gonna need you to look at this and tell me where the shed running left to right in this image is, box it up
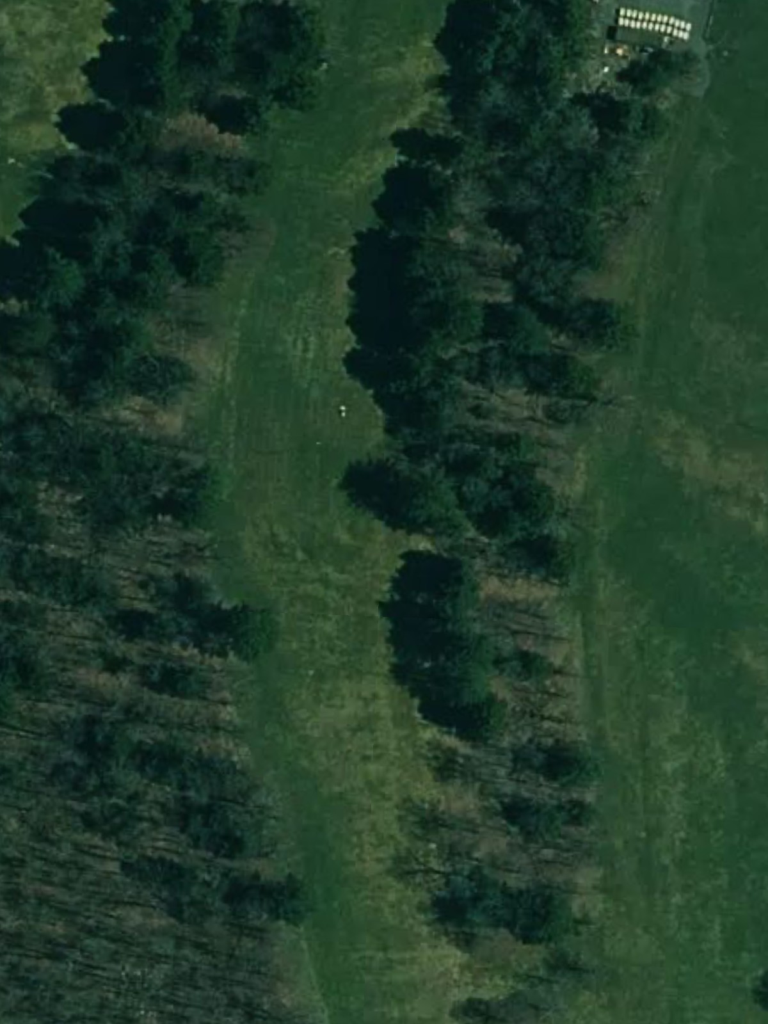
[615,25,663,45]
